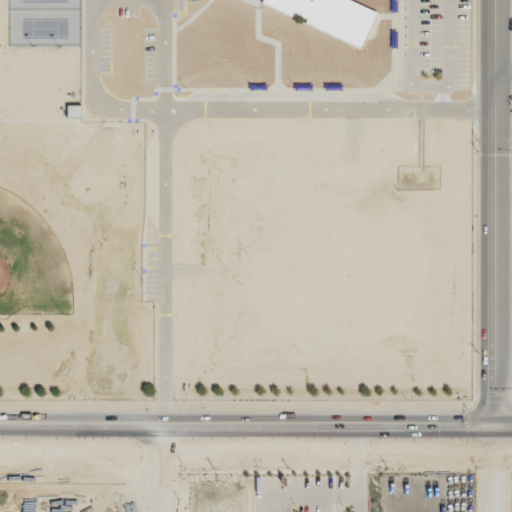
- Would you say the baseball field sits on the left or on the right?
left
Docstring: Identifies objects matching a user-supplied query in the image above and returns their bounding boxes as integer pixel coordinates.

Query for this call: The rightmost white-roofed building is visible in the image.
[259,0,378,48]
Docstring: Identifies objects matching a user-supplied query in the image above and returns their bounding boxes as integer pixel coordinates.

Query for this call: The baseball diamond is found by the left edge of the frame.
[0,188,74,314]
